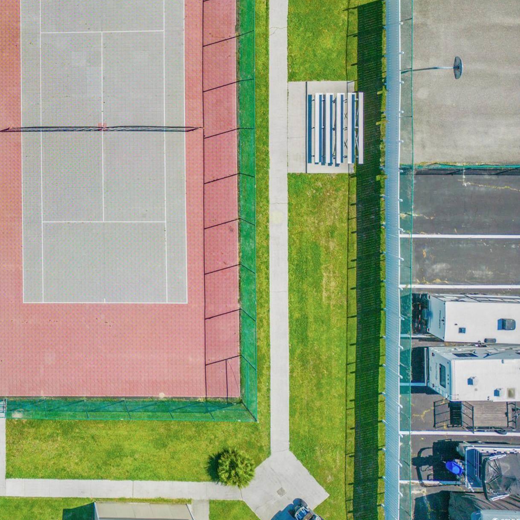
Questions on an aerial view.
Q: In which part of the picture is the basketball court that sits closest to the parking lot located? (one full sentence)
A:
The basketball court that sits closest to the parking lot appears toward the top right of the photo.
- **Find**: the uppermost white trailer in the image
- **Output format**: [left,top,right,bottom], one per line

[422,291,520,342]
